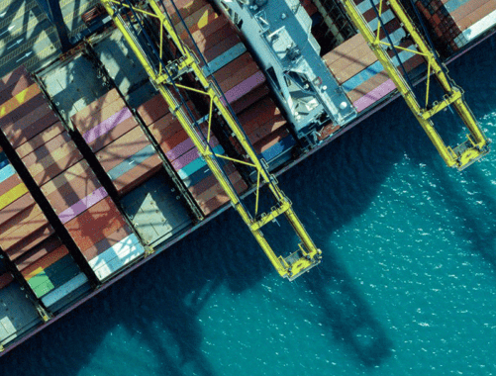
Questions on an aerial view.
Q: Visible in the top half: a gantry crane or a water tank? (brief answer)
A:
gantry crane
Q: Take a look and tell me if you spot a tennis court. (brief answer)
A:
No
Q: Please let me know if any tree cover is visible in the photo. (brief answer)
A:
No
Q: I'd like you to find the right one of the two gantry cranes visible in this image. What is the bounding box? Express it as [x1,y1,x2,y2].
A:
[333,0,492,173]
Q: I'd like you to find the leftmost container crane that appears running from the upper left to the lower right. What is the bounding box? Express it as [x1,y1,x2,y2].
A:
[29,0,322,284]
